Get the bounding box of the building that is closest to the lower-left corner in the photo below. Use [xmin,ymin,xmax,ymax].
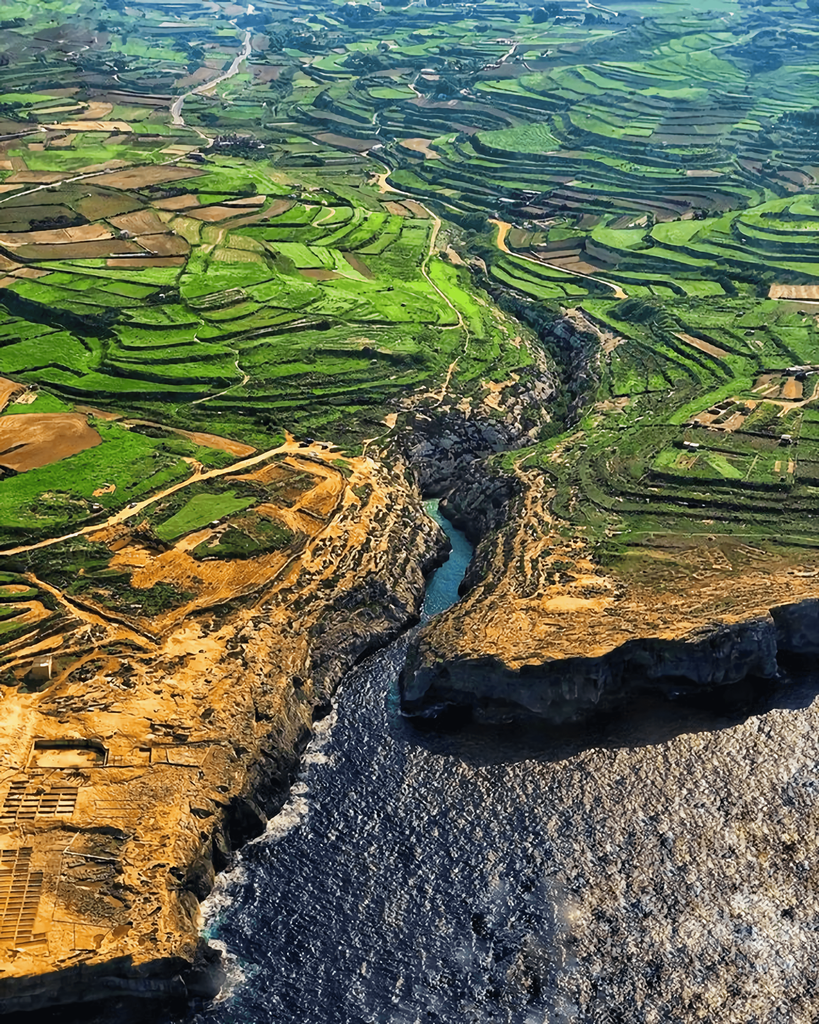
[27,653,53,676]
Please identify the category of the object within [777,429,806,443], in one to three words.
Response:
shed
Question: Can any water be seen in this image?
Yes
